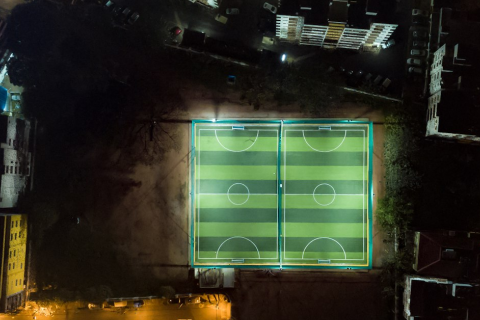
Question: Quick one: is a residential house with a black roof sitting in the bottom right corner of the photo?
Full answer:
Yes, I can see a residential house with a black roof in the bottom right corner of the photo.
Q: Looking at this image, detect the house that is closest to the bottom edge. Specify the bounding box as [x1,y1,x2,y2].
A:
[402,275,480,320]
